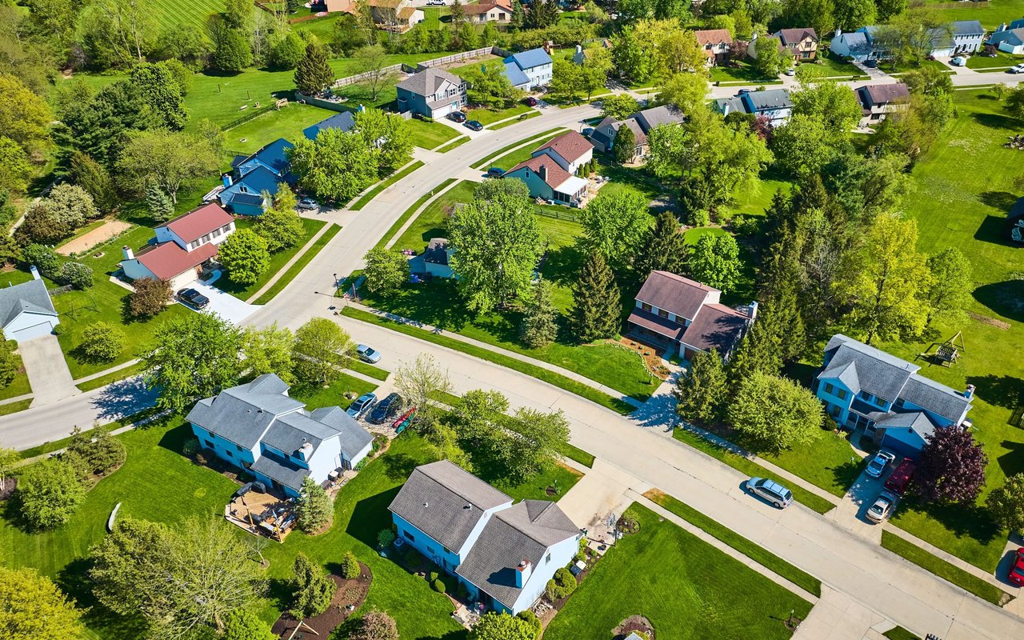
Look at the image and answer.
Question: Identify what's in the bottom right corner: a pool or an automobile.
automobile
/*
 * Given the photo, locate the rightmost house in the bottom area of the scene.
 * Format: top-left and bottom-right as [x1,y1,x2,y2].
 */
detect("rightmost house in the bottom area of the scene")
[809,334,974,456]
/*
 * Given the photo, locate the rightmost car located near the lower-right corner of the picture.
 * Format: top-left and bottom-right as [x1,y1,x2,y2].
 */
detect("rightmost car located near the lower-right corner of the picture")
[1002,546,1024,585]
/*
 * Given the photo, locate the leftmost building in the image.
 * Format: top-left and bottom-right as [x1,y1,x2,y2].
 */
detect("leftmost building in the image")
[0,266,62,344]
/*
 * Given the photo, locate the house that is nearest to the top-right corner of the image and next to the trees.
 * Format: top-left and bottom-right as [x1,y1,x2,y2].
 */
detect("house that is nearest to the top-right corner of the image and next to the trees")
[981,13,1024,57]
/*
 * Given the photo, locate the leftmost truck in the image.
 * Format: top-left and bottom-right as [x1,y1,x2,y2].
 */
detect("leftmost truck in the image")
[178,288,208,309]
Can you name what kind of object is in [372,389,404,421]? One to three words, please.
car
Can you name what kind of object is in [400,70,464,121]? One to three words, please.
house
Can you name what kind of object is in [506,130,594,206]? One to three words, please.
house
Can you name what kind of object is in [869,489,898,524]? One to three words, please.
car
